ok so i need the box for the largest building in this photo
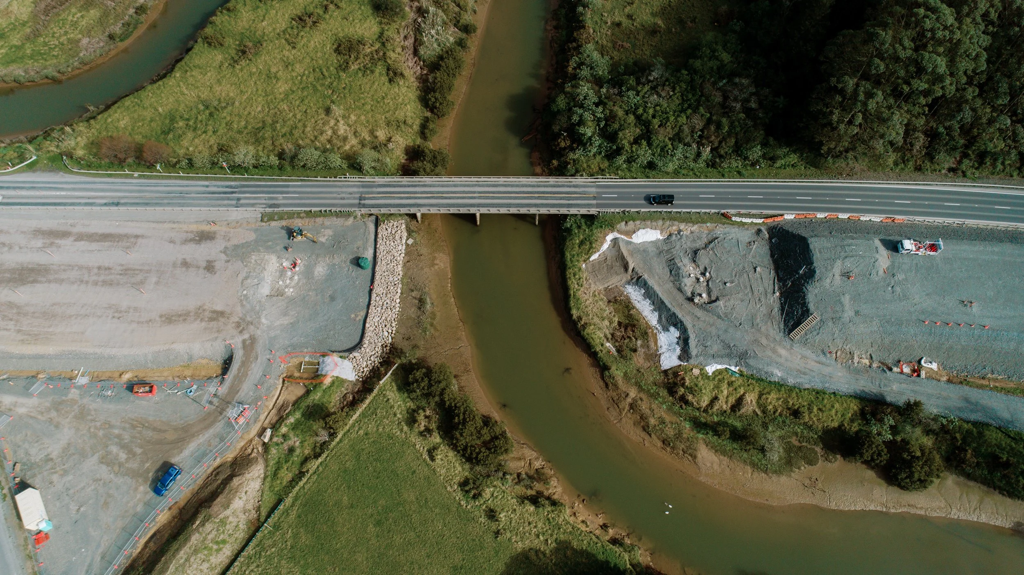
[14,490,49,530]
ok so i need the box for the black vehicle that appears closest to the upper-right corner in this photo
[652,193,676,205]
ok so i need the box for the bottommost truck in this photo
[153,467,180,498]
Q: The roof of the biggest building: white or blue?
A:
white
